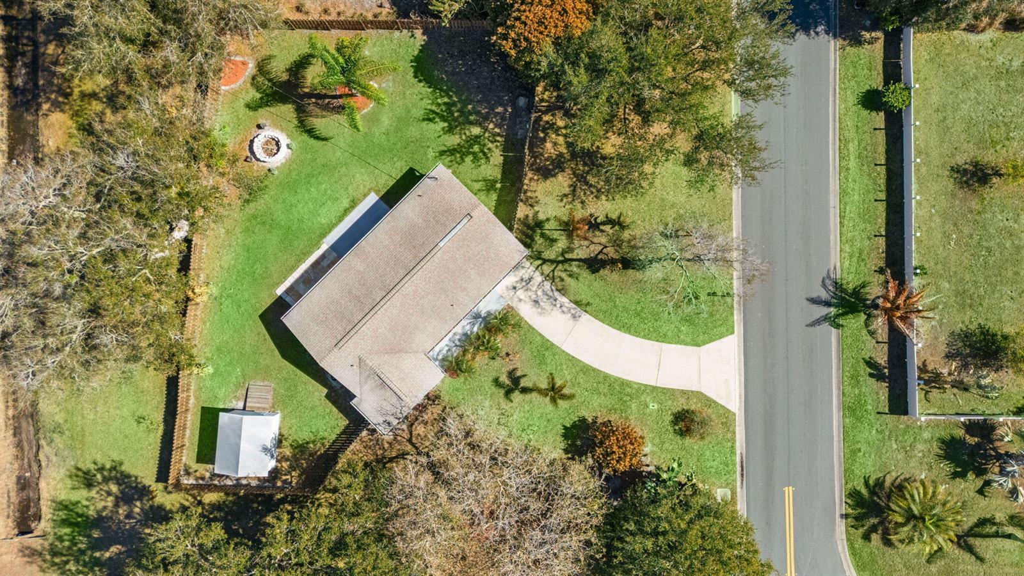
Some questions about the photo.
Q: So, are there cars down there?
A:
No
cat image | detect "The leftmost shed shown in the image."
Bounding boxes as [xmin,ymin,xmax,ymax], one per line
[214,409,281,477]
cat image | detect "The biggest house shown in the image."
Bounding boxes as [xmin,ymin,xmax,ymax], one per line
[280,162,530,435]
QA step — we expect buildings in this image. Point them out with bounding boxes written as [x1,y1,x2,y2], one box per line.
[214,409,281,477]
[280,162,530,435]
